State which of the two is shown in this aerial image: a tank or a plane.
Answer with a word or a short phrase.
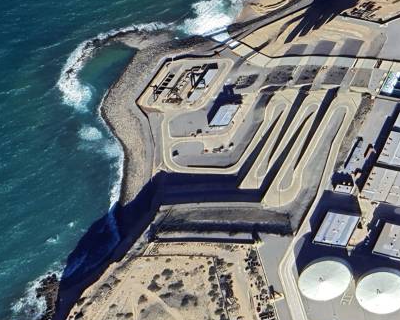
tank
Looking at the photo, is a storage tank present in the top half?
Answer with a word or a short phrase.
No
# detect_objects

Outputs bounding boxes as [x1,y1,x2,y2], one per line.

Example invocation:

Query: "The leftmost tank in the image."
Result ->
[298,248,353,304]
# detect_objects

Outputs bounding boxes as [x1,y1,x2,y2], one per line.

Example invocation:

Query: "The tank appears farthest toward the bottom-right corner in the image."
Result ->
[355,261,400,316]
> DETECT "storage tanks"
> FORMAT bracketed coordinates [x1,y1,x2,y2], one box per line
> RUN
[298,248,353,304]
[355,261,400,316]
